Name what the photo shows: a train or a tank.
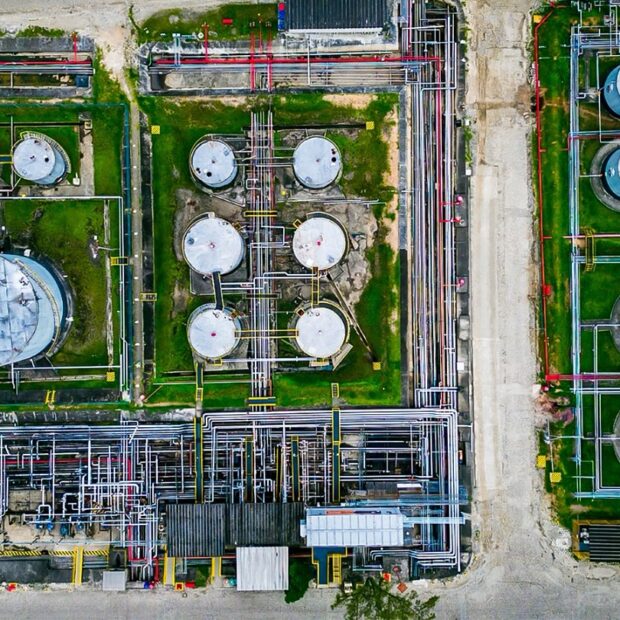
tank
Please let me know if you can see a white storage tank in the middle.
Yes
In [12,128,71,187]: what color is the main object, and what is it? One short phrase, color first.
white storage tank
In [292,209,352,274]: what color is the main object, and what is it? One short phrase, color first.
white storage tank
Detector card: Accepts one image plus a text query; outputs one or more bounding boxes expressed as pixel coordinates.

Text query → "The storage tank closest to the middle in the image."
[294,301,351,357]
